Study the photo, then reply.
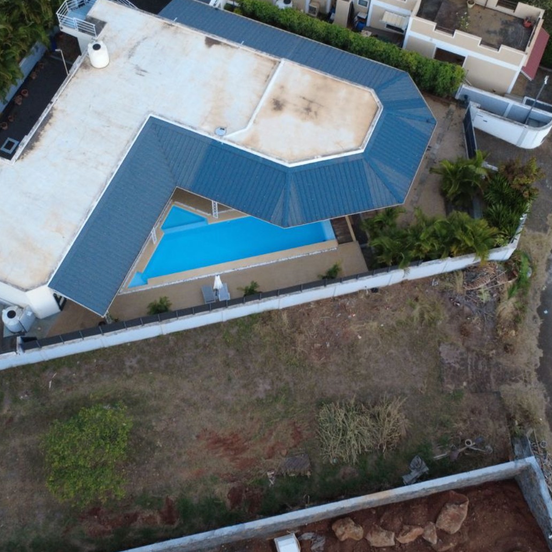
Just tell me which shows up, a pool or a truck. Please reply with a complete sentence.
Visible in the photo is a pool.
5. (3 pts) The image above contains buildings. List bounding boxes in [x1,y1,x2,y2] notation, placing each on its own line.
[274,0,550,93]
[0,0,436,324]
